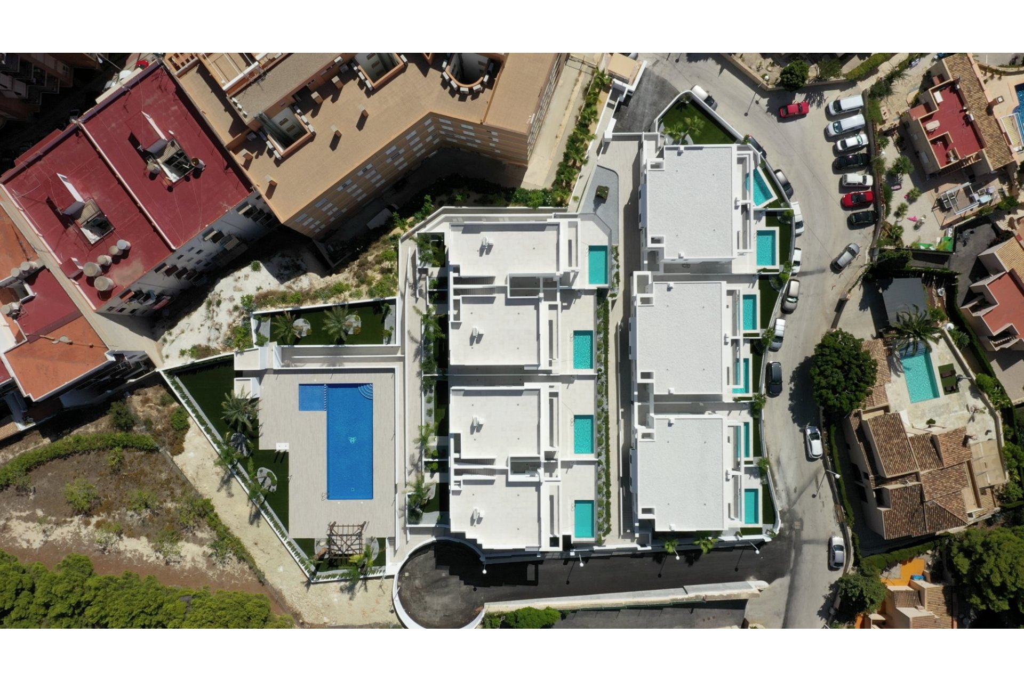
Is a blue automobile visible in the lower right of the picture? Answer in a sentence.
No, I can find no blue automobile in the lower right of the picture.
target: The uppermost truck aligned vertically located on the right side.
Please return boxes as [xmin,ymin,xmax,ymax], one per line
[786,201,807,237]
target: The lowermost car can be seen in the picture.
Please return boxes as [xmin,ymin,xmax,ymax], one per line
[828,537,844,570]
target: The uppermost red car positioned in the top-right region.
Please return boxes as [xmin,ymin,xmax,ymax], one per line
[777,101,809,119]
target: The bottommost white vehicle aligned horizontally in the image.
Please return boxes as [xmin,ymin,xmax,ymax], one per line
[840,173,872,188]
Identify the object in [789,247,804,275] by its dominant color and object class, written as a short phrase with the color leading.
white car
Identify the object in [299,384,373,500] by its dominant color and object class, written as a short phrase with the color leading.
blue swimming pool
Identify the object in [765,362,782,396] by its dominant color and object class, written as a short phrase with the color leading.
black car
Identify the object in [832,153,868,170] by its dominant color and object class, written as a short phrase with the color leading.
black car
